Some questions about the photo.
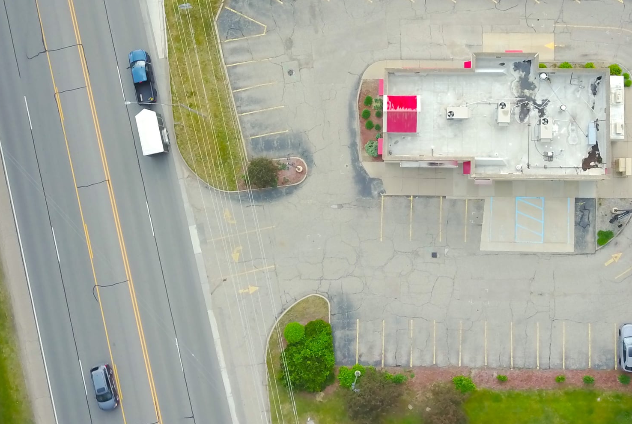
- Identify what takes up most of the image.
paved ground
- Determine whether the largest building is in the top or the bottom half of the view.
top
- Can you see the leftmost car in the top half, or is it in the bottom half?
bottom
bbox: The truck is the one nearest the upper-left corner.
[128,50,159,108]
